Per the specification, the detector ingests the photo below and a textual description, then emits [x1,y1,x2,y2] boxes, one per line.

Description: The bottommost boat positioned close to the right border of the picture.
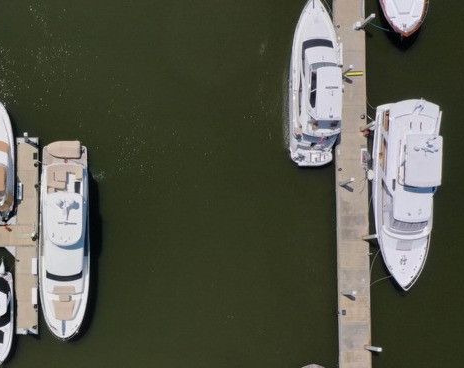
[364,99,442,291]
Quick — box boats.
[36,146,90,339]
[47,142,85,158]
[283,0,343,167]
[0,257,16,363]
[364,99,442,291]
[368,0,433,40]
[0,103,17,225]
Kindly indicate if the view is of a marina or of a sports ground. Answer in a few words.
marina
